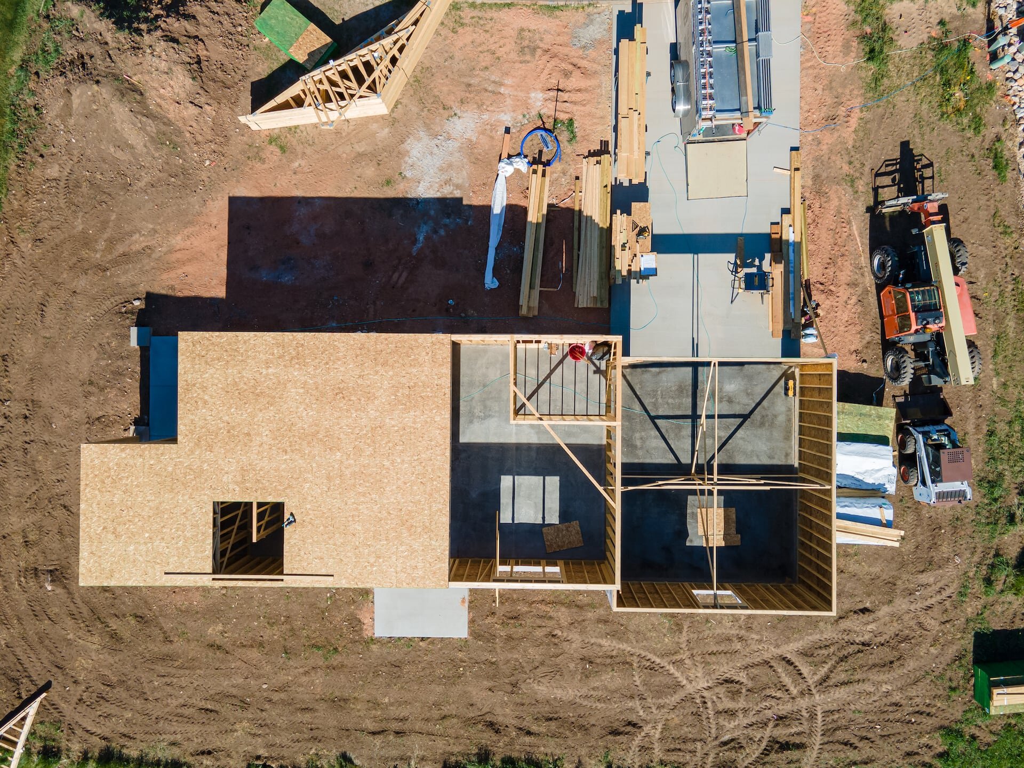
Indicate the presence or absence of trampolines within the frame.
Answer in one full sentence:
No, there isn't any trampoline down there.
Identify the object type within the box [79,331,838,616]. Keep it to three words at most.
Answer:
house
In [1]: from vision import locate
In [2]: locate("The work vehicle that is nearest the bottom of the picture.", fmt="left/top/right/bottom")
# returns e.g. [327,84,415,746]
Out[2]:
[891,395,974,505]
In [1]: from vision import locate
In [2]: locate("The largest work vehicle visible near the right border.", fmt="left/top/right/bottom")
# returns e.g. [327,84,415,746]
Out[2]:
[863,167,983,392]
